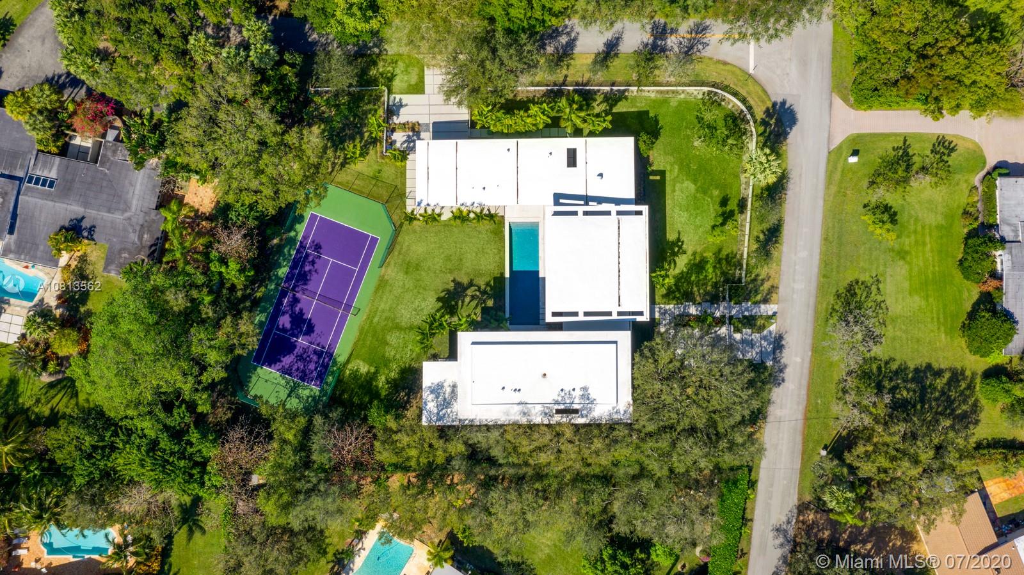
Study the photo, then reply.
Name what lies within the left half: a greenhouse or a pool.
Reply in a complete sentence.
Looking within the left half, you will find a pool.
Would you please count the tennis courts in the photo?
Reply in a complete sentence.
Only 1 tennis court is visible.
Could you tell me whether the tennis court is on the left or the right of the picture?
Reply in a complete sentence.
The tennis court appears in the left half of the scene.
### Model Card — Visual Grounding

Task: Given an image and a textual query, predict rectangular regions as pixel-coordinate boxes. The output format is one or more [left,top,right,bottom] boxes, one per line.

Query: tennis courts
[237,184,394,415]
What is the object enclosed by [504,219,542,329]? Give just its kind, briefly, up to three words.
swimming pool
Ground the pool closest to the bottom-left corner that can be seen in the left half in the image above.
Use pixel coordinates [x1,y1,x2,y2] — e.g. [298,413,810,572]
[39,519,117,561]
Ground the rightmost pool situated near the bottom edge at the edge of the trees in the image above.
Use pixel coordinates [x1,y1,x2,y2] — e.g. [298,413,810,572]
[351,526,416,575]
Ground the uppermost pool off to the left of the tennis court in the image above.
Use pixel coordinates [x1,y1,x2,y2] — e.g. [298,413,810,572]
[0,256,50,306]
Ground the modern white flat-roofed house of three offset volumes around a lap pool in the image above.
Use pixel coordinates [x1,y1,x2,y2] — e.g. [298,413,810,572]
[416,139,649,425]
